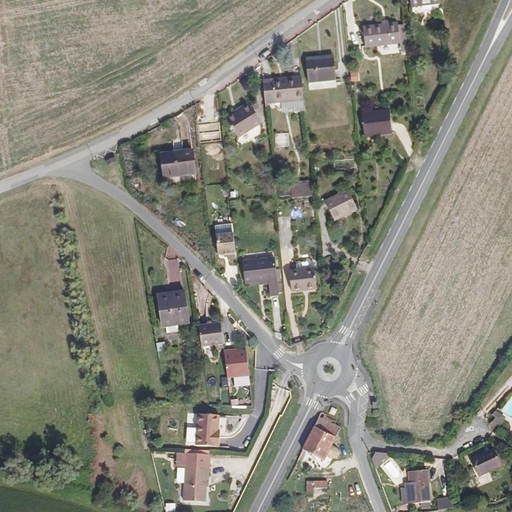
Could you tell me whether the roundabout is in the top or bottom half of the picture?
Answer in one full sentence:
The roundabout sits in the bottom half of the picture.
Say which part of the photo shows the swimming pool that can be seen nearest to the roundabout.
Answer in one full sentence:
You can find the swimming pool that can be seen nearest to the roundabout in the bottom right area of the picture.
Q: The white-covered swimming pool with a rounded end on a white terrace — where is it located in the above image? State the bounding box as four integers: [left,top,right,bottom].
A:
[380,456,406,487]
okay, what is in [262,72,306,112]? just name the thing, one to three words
house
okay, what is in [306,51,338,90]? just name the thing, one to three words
house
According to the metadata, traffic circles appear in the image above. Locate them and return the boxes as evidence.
[300,342,358,398]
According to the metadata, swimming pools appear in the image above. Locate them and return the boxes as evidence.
[380,456,406,487]
[502,394,512,413]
